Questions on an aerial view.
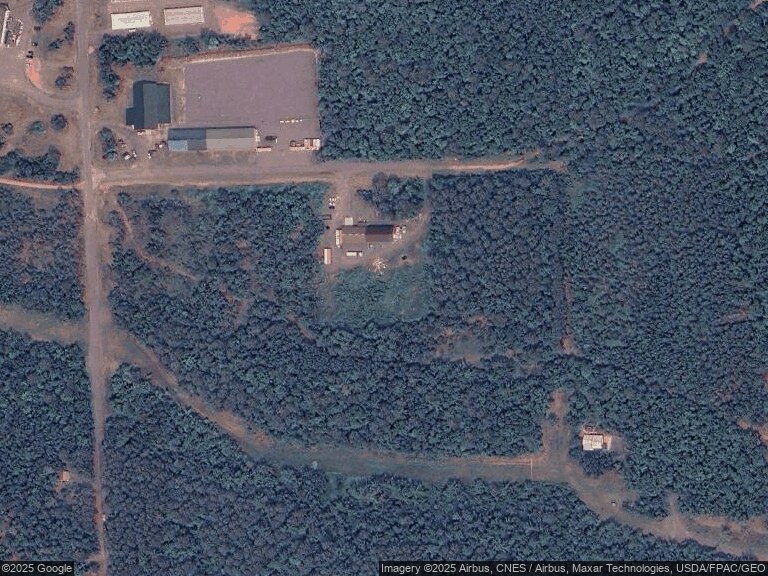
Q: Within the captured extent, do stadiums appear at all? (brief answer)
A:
No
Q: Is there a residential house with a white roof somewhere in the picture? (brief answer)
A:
Yes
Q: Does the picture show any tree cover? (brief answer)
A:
Yes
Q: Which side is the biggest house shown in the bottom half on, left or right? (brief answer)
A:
right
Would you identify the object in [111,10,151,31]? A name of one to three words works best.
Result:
barn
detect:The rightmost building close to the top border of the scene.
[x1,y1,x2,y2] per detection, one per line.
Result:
[164,7,202,24]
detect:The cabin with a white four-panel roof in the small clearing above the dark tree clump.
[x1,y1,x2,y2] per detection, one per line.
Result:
[584,427,611,451]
